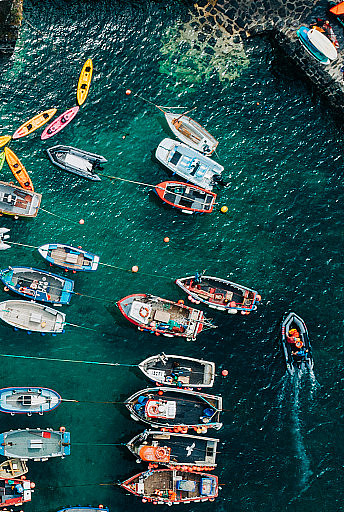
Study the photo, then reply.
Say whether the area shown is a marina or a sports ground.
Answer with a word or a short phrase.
marina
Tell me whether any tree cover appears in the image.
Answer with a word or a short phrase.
No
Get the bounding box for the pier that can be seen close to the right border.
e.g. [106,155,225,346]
[249,0,344,124]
